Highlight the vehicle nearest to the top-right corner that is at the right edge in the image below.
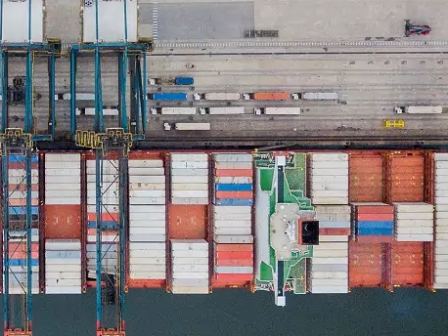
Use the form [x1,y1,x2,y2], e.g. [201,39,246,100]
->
[403,18,433,37]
